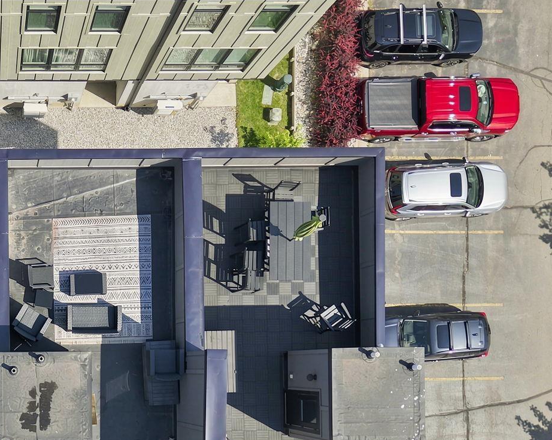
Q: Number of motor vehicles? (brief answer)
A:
4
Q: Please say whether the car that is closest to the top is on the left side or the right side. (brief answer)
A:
right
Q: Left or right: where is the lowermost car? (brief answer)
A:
right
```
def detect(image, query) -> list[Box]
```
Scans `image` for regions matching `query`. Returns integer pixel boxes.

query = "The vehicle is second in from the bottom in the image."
[383,156,506,217]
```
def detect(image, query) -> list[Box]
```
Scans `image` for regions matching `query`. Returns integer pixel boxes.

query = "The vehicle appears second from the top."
[354,72,518,141]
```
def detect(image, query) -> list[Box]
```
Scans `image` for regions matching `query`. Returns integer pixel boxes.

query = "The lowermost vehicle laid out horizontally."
[384,305,493,360]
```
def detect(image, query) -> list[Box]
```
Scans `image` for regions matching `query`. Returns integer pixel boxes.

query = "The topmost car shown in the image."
[354,2,483,68]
